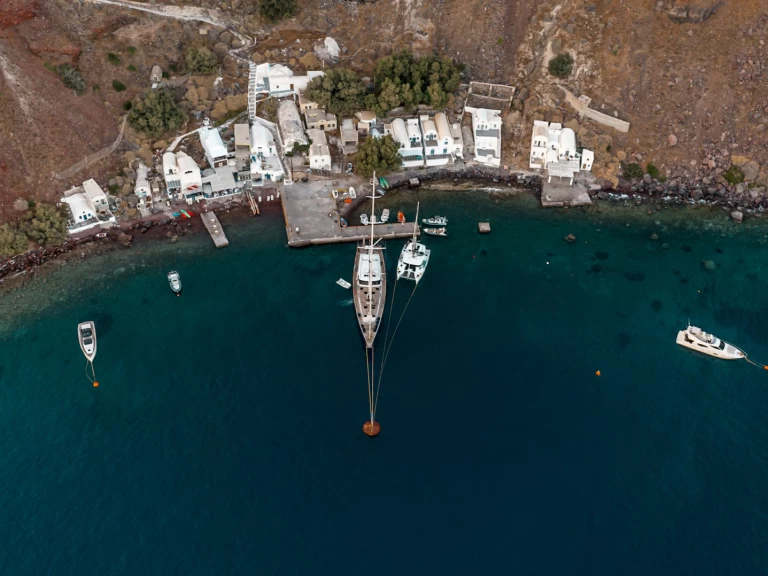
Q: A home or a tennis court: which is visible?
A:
home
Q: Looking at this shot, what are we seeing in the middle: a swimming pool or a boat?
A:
boat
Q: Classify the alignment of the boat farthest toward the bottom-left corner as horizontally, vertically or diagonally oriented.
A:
vertically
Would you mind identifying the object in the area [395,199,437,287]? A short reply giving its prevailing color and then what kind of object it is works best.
white boat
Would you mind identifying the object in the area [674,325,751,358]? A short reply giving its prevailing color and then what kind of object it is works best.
white boat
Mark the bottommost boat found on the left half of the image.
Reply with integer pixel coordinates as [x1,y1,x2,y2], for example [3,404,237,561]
[78,318,98,362]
